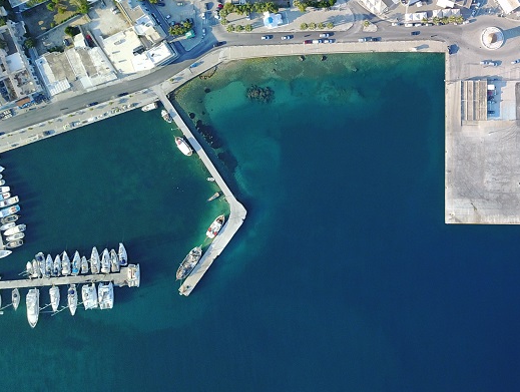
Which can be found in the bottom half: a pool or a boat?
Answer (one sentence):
You can see a boat in the bottom half.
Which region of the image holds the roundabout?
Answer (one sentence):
Look in the top right portion of the view to spot the roundabout.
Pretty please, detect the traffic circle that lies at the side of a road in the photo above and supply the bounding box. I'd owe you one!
[451,0,520,78]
